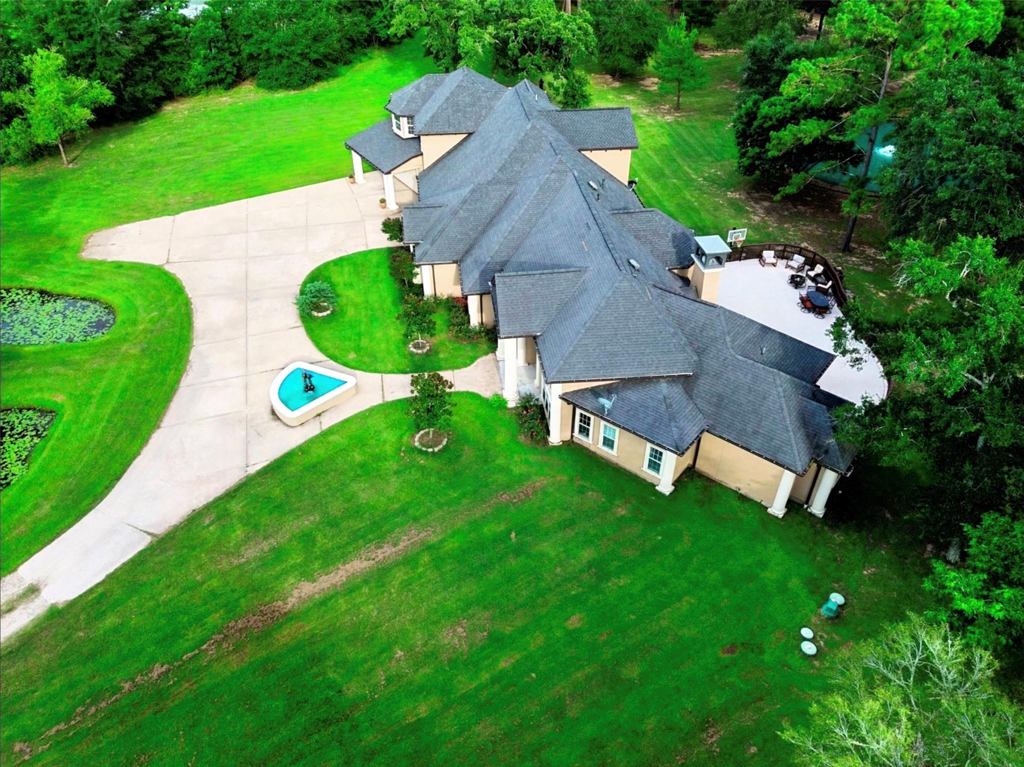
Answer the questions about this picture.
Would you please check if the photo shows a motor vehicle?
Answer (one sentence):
No, no motor vehicle is visible in the scene.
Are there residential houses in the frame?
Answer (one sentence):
Yes, the image includes a residential house.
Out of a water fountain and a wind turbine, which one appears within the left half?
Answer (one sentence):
The one visible within the left half is a water fountain.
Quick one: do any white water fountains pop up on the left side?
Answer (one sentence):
Yes, a white water fountain can be seen on the left side.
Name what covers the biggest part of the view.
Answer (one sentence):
The scene is dominated by grass.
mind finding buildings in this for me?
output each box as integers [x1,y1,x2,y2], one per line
[343,70,884,519]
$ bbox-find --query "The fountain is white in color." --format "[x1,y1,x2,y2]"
[269,362,358,424]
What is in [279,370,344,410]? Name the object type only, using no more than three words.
swimming pool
